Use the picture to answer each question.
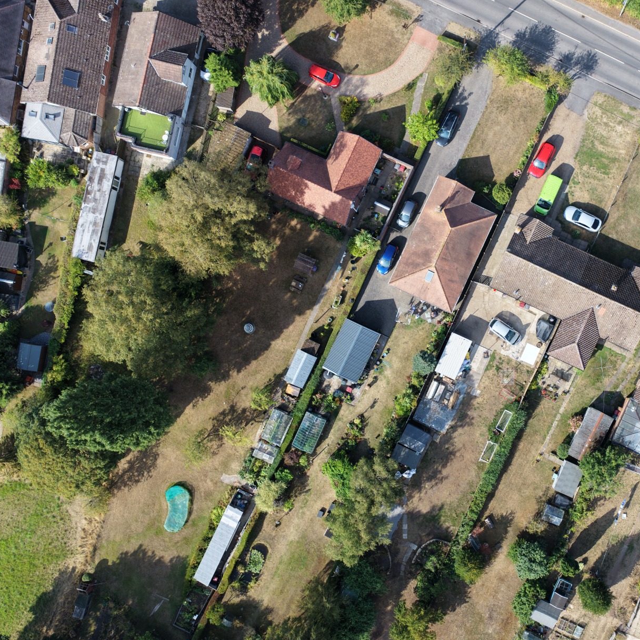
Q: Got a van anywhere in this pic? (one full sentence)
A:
Yes, the image includes a van.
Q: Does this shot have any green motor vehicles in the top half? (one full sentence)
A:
Yes, you'll find a green motor vehicle in the top half.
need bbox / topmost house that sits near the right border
[489,214,640,371]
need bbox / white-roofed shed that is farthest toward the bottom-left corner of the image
[194,502,246,586]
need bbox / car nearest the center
[376,241,400,276]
